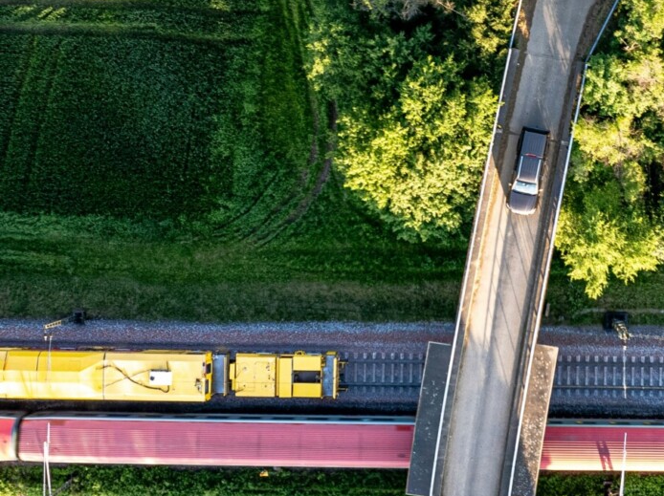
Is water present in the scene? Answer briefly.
No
